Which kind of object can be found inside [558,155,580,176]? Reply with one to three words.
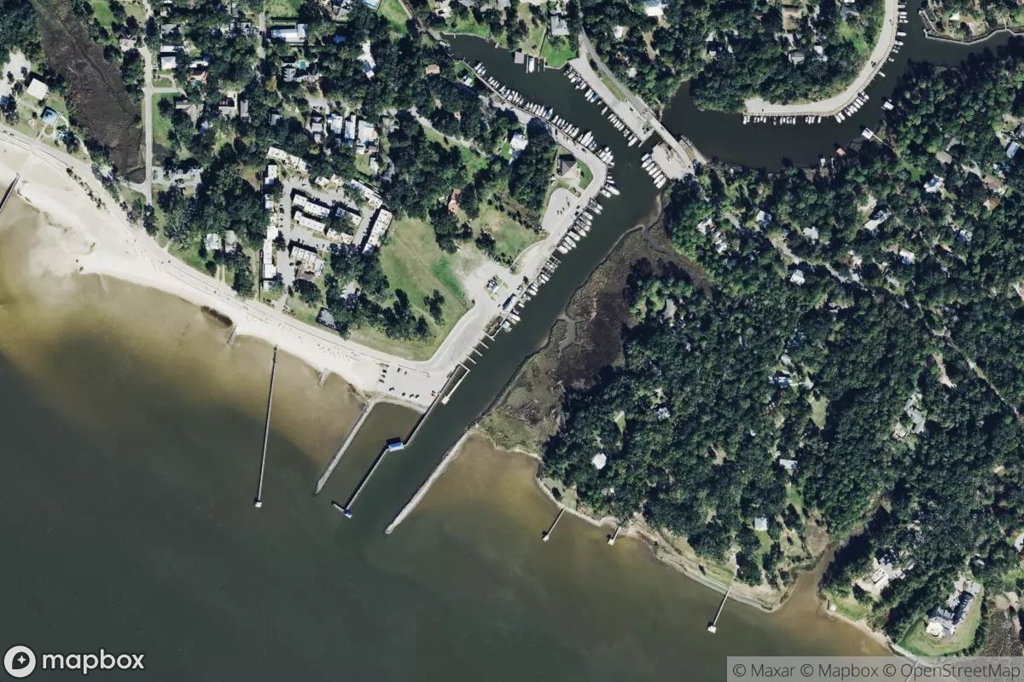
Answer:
building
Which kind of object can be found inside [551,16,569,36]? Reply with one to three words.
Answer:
house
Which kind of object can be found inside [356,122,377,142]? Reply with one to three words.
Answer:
house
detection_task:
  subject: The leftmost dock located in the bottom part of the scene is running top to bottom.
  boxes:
[254,345,276,508]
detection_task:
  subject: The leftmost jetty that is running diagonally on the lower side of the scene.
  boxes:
[315,400,377,492]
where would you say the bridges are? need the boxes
[644,106,693,162]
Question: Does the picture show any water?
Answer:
Yes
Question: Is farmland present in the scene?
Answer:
No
